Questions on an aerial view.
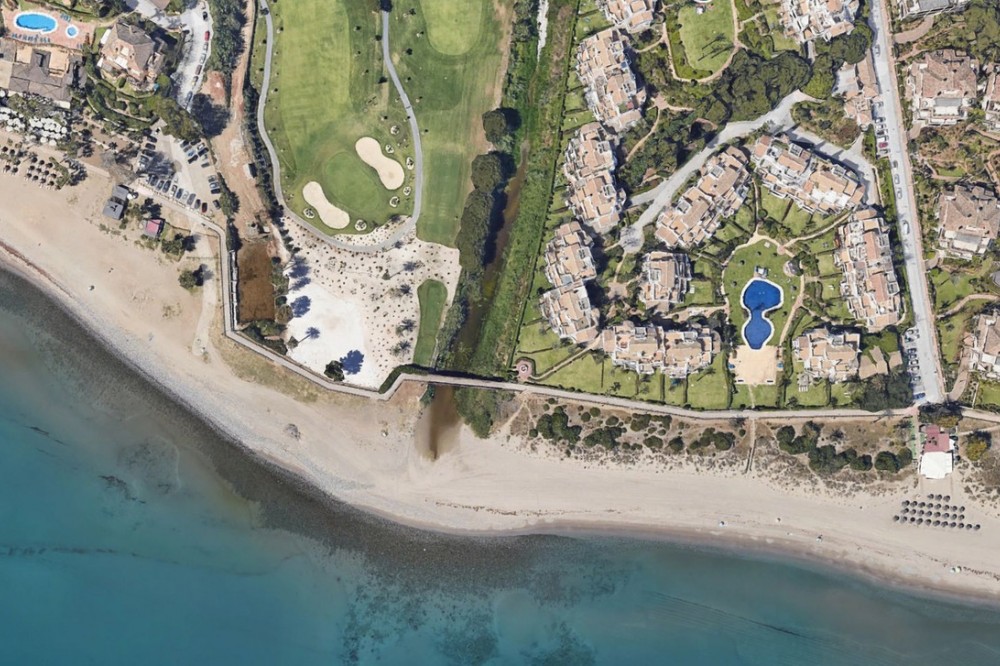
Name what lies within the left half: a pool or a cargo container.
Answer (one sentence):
There is a pool within the left half.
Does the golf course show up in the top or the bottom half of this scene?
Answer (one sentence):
The golf course is in the top half of the image.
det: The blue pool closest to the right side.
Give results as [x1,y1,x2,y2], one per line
[741,278,783,352]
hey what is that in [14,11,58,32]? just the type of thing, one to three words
swimming pool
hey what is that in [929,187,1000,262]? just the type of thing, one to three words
house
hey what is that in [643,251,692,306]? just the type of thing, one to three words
building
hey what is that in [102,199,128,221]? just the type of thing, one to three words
shed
